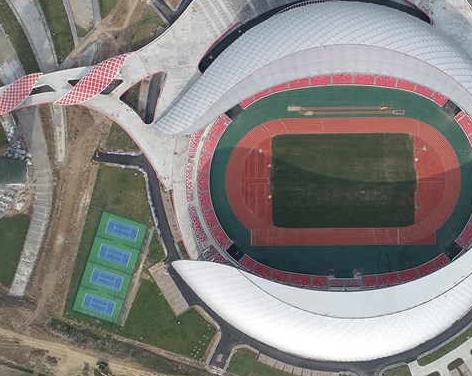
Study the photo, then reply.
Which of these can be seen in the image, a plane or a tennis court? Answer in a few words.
tennis court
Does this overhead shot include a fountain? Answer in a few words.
No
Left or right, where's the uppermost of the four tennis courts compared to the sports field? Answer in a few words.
to its left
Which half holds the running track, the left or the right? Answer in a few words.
right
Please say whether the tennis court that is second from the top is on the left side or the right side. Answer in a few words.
left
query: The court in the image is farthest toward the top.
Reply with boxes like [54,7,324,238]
[95,211,148,251]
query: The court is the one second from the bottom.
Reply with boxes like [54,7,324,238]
[80,261,133,300]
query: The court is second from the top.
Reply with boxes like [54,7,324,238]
[88,236,140,275]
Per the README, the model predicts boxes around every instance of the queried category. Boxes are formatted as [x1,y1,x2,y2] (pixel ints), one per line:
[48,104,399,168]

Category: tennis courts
[95,211,148,251]
[88,236,140,275]
[80,261,133,300]
[73,285,125,325]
